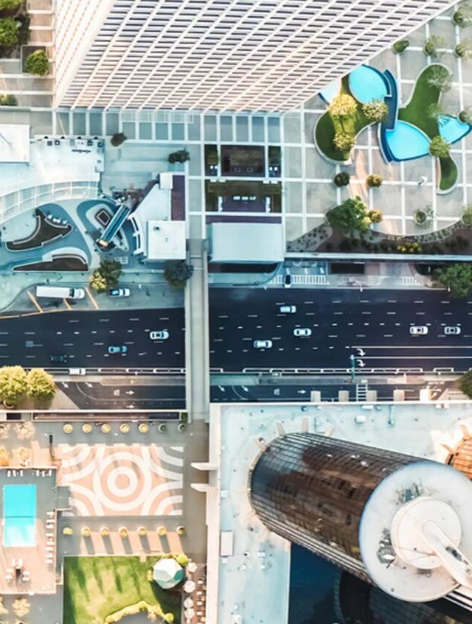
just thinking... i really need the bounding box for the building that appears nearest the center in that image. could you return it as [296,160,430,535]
[206,222,285,261]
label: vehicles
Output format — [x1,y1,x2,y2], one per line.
[150,331,167,340]
[293,329,310,336]
[278,305,296,314]
[443,326,461,334]
[66,368,87,375]
[50,354,67,362]
[36,288,83,298]
[254,340,271,348]
[409,326,428,334]
[108,289,130,296]
[283,271,292,288]
[109,345,125,354]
